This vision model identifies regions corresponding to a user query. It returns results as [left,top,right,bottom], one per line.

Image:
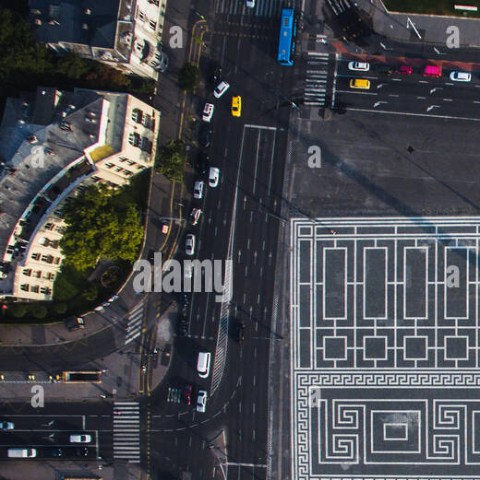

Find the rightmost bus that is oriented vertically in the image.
[277,8,300,70]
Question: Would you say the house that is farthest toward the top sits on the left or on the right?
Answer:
left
